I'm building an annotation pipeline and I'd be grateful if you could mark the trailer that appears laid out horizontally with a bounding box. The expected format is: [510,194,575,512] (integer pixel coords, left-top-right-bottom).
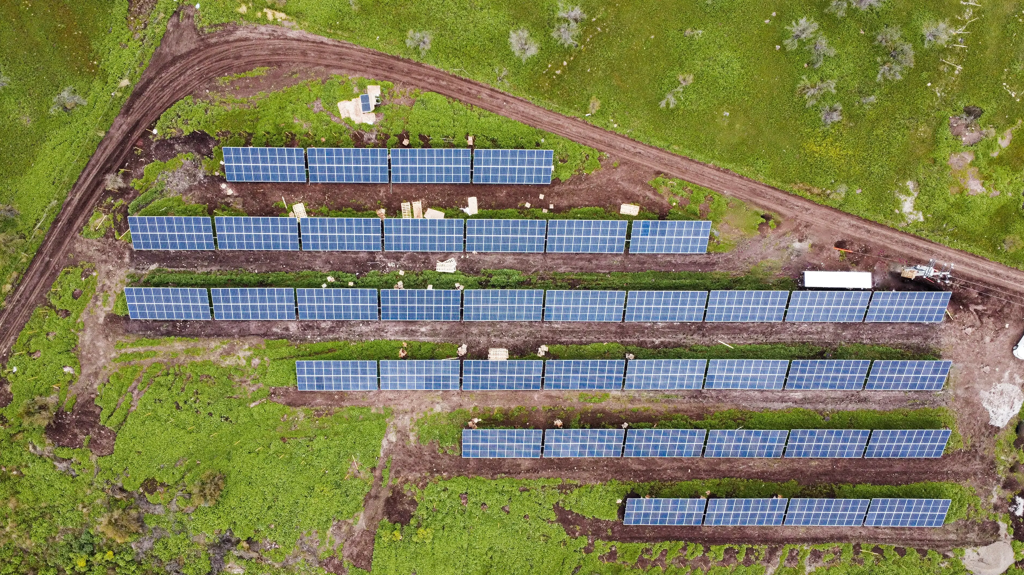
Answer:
[792,271,871,288]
